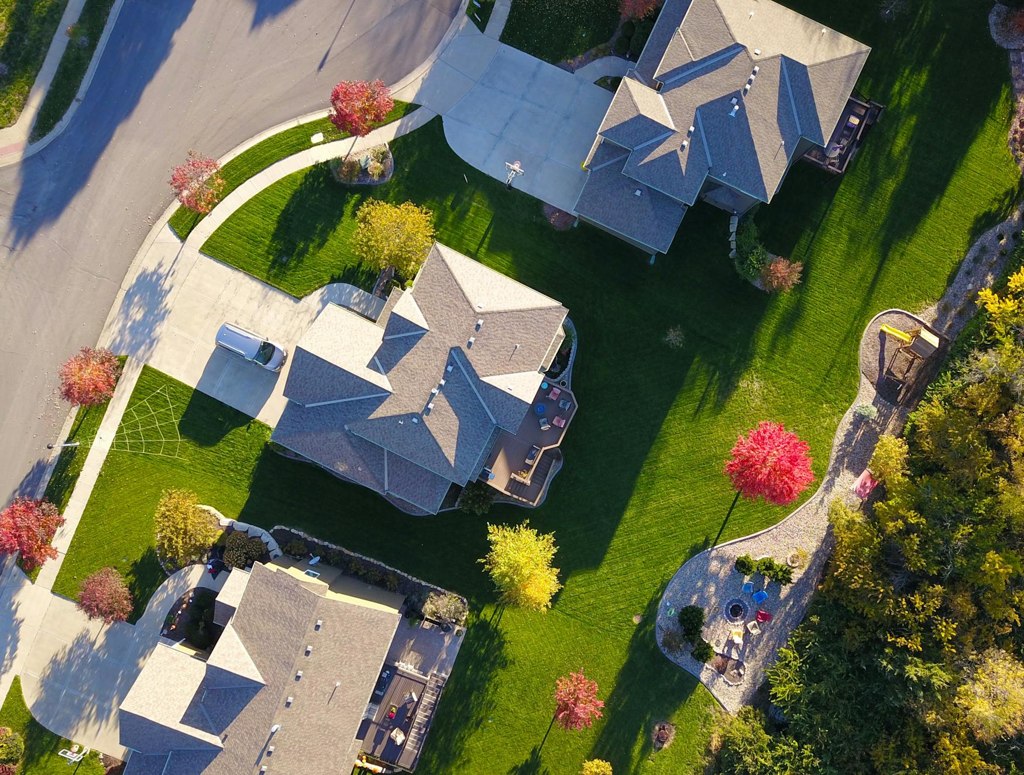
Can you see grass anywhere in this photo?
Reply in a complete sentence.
Yes, grass can be seen from above here.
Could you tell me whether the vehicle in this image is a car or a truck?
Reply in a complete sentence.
From above, the vehicle can be identified as a car.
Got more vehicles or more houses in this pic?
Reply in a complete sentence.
The vehicles are outnumbered by the houses.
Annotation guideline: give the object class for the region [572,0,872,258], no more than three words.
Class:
house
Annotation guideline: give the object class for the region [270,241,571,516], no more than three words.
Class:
house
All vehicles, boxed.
[209,319,291,374]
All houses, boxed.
[270,241,571,516]
[119,550,403,775]
[572,0,872,258]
